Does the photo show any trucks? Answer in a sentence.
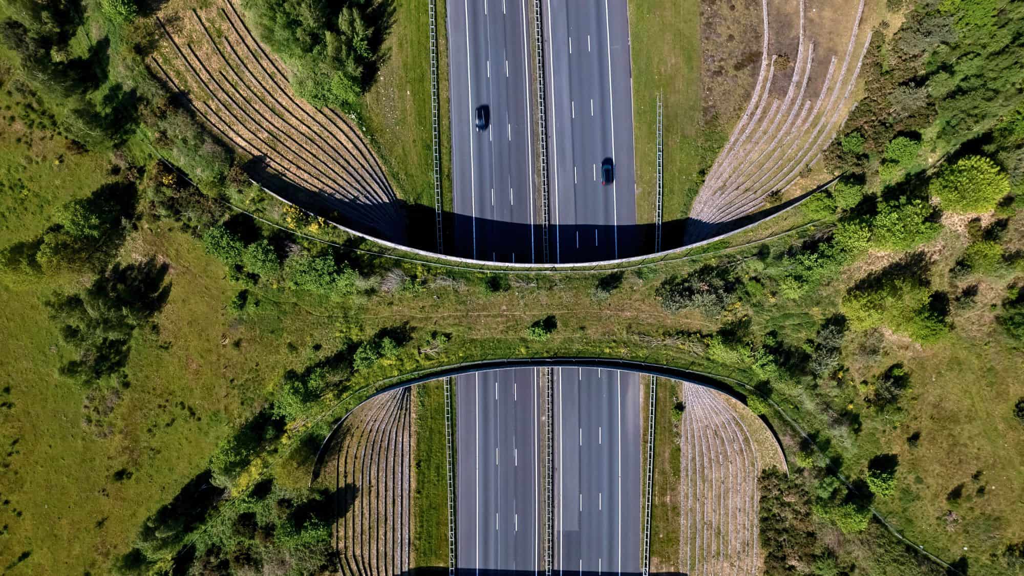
No, no truck can be seen from above.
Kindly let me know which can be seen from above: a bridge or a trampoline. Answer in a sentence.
Looking from above, you can make out a bridge.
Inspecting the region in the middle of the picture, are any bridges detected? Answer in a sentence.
Yes, you'll find a bridge in the middle of the picture.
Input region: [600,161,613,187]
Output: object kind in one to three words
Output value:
vehicle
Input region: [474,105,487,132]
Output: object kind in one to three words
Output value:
vehicle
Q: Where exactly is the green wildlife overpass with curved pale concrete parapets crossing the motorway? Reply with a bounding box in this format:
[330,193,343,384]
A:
[249,173,845,487]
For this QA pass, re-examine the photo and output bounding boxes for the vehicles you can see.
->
[474,105,487,132]
[600,161,613,187]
